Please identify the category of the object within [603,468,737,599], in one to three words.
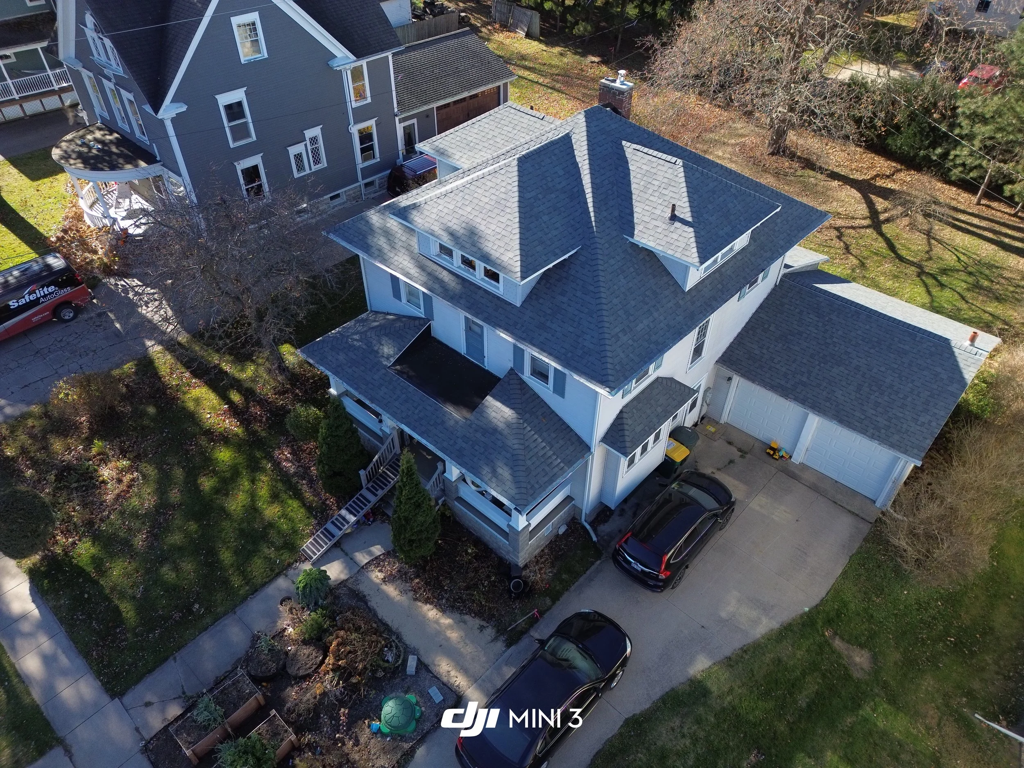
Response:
car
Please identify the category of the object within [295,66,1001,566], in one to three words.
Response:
house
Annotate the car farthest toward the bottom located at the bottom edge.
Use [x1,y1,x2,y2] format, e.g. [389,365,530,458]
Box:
[448,613,628,768]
